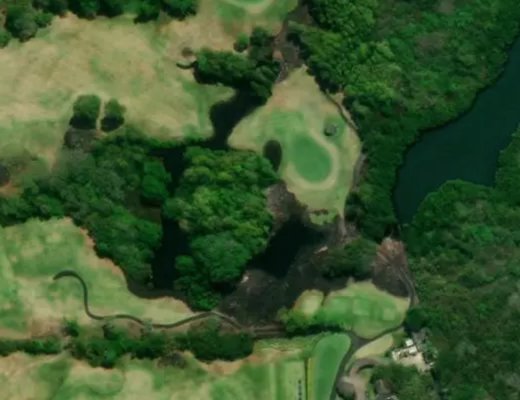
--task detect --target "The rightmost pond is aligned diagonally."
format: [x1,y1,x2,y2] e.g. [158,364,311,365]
[392,25,520,224]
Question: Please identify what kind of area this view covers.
golf course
